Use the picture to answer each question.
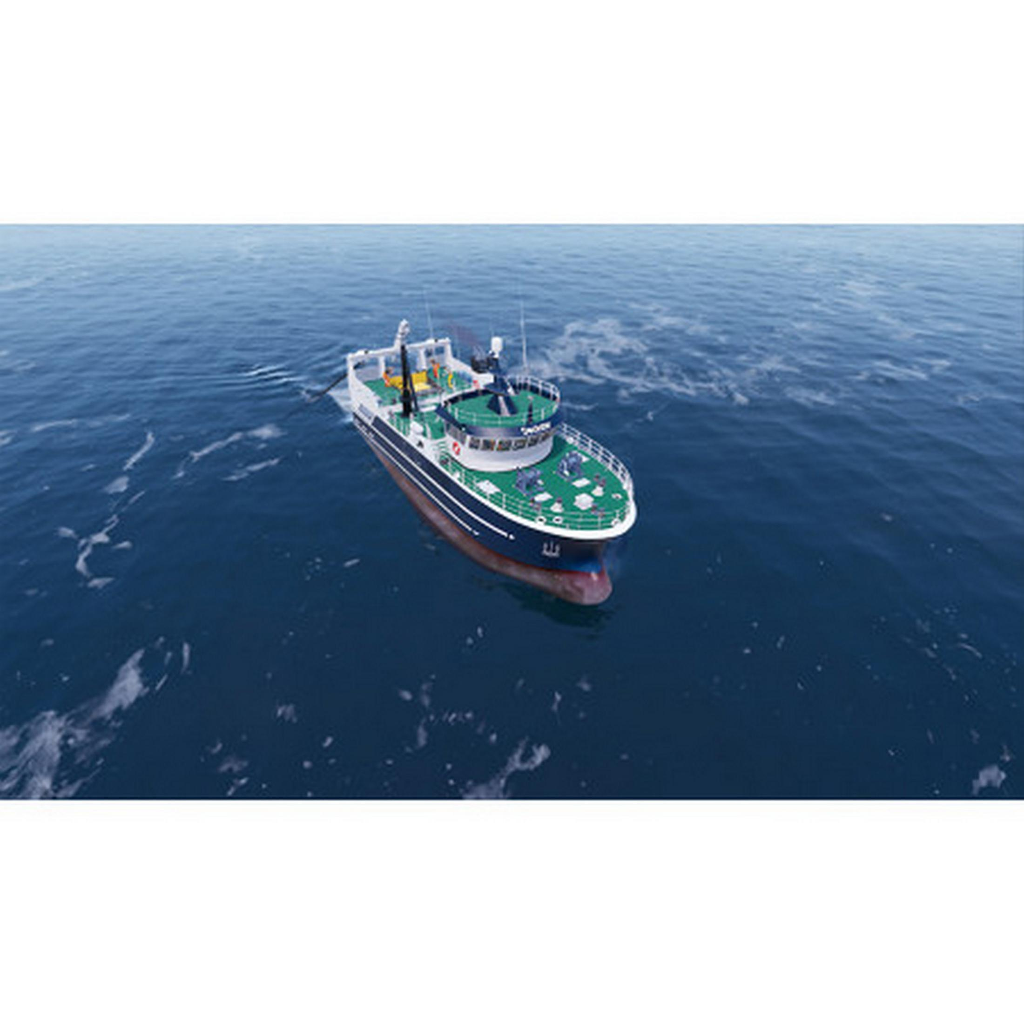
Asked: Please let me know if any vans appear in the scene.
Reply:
No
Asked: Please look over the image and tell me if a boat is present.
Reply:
Yes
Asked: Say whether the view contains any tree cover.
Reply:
No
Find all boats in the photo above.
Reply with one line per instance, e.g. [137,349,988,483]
[346,293,640,603]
